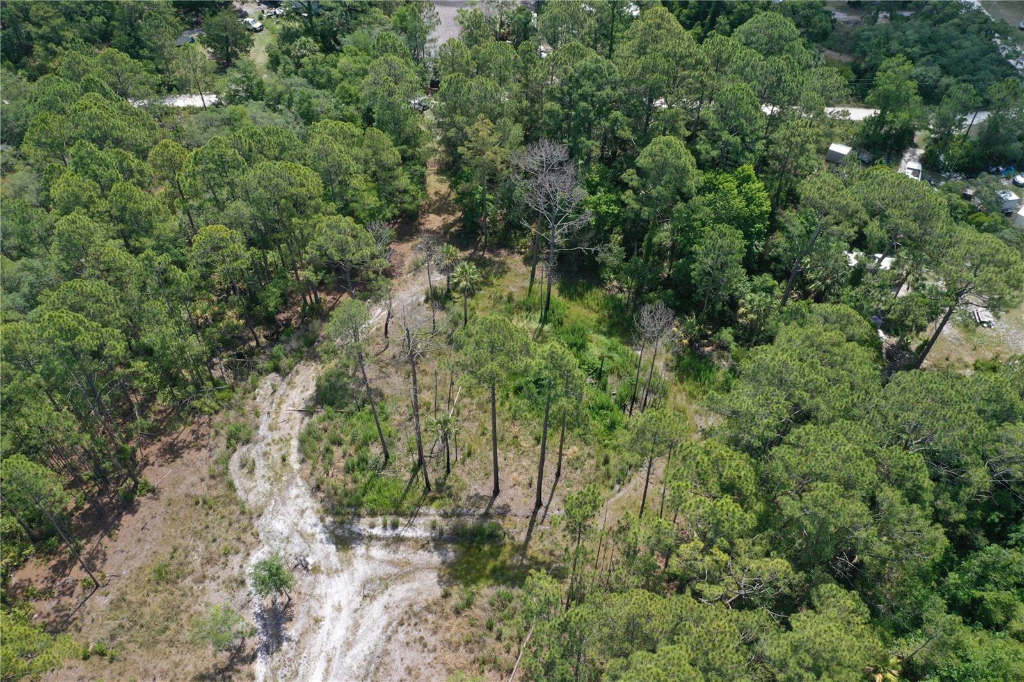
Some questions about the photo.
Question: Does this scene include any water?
No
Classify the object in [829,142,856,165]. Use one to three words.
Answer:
shed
